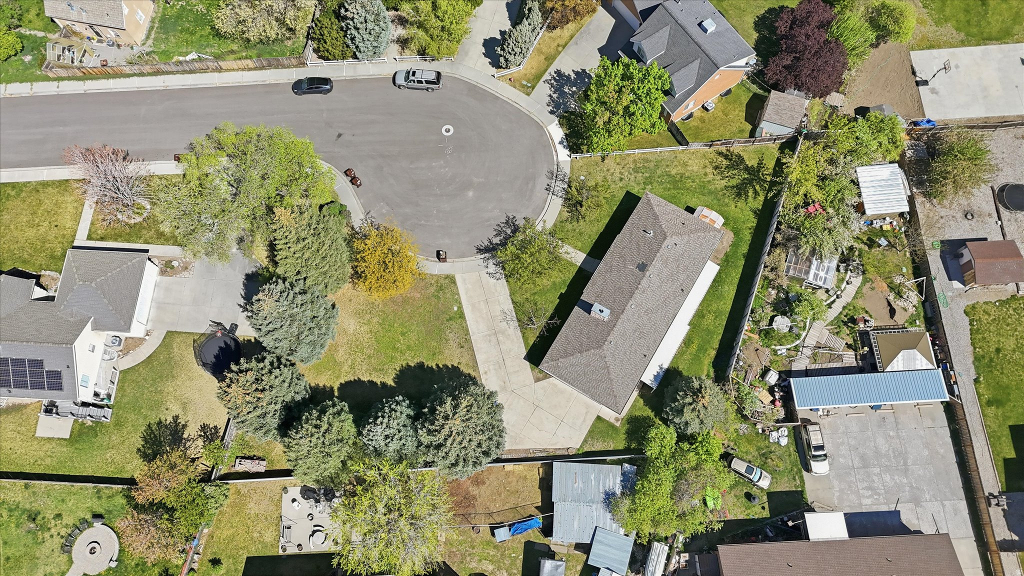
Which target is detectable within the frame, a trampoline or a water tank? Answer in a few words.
trampoline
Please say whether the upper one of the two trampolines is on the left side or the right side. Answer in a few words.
right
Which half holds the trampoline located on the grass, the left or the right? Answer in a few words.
left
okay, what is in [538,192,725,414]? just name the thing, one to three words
house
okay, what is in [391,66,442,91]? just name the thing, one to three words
car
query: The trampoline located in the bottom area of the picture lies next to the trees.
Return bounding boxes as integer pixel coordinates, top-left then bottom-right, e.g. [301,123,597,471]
[191,327,248,380]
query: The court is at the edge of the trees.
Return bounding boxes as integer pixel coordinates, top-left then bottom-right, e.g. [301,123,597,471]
[910,43,1024,120]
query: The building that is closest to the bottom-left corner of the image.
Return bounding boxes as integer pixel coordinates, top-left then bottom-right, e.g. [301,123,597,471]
[0,246,157,400]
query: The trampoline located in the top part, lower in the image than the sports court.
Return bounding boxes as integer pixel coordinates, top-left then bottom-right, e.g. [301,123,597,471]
[999,176,1024,219]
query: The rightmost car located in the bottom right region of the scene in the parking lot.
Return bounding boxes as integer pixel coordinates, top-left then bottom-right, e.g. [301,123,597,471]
[800,423,831,476]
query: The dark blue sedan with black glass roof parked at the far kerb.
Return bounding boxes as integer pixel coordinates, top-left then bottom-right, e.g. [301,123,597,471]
[289,73,332,94]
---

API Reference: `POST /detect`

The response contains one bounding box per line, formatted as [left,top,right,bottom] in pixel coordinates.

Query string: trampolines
[999,176,1024,219]
[191,327,248,380]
